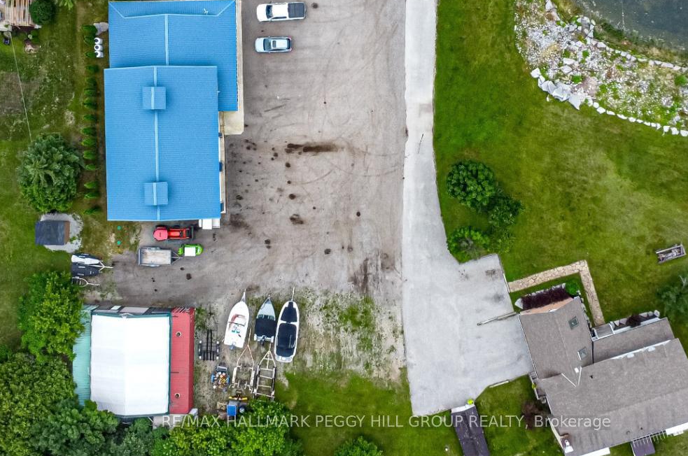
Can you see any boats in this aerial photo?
Yes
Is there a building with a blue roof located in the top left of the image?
Yes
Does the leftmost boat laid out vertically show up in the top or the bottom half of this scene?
bottom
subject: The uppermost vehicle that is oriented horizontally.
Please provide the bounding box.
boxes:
[257,0,306,21]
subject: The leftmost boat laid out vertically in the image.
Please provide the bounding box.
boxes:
[223,289,248,351]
